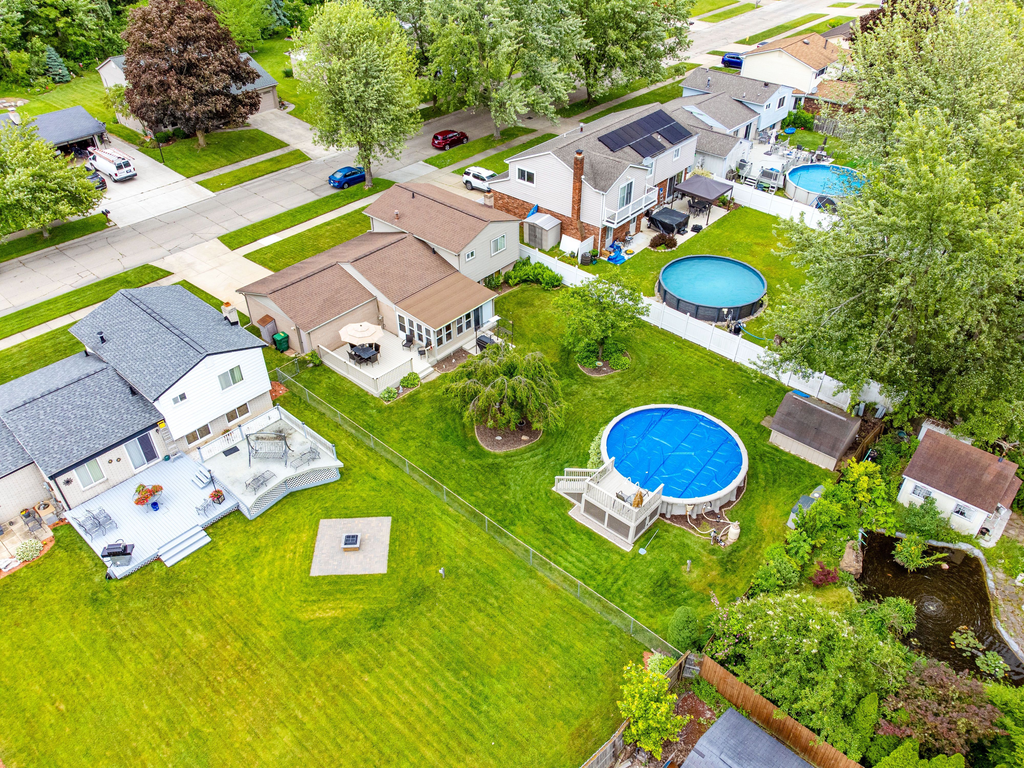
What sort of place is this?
residential area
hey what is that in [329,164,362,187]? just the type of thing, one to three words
car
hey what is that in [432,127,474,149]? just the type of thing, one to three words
car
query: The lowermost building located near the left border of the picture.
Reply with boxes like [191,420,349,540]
[0,285,275,523]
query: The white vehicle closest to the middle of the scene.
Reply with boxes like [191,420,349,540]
[459,165,497,191]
